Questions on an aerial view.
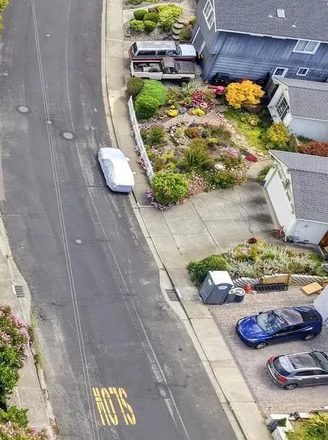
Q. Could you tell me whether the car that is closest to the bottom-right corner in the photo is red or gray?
gray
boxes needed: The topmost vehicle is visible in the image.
[133,39,198,64]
